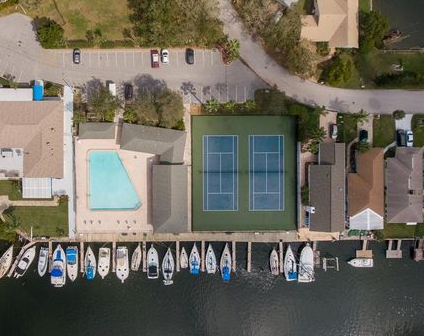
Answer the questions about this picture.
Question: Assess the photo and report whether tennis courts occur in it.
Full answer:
Yes, the image includes a tennis court.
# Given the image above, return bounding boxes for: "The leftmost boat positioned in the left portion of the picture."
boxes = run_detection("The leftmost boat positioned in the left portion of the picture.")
[0,244,13,278]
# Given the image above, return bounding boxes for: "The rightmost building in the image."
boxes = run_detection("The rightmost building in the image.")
[384,147,424,225]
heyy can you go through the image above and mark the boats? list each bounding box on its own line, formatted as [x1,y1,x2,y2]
[13,244,36,280]
[188,243,201,275]
[0,244,13,278]
[36,245,49,279]
[179,244,189,269]
[163,280,173,287]
[268,245,285,276]
[83,243,96,280]
[220,243,236,282]
[51,243,66,287]
[204,243,218,274]
[131,244,141,271]
[161,243,176,280]
[283,243,306,281]
[96,243,110,280]
[115,243,130,285]
[296,242,315,285]
[146,244,158,280]
[65,247,79,284]
[345,259,375,267]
